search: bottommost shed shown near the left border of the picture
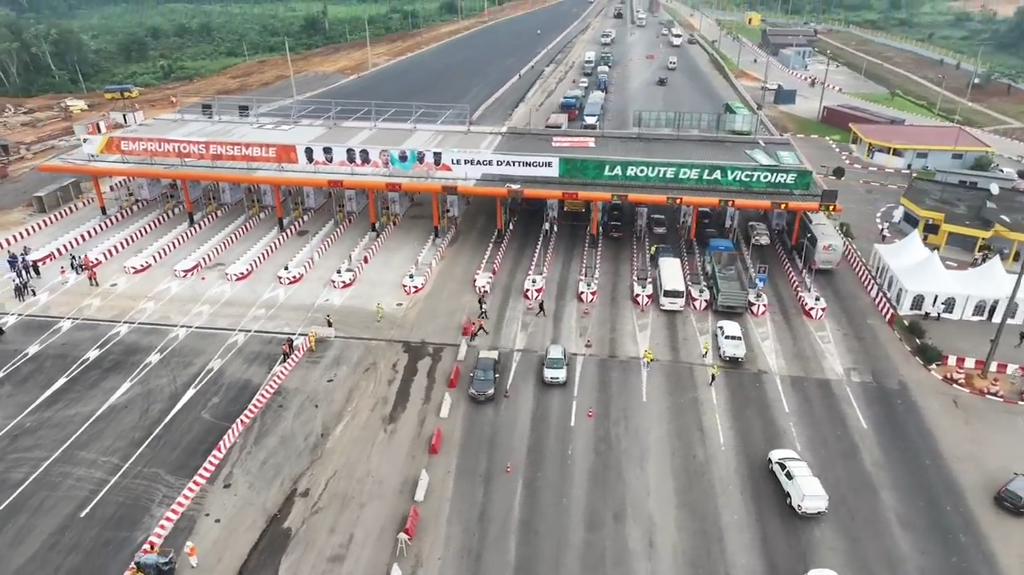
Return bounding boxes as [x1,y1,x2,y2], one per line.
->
[19,175,88,217]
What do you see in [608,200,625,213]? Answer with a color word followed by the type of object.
black vehicle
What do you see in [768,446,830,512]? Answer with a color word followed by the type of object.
white truck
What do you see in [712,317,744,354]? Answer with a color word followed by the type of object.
white truck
